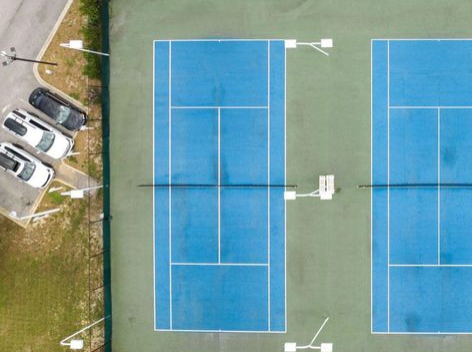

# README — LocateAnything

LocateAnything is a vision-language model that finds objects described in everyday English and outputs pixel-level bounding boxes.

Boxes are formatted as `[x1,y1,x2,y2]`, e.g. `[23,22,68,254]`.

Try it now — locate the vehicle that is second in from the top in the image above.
[4,112,70,157]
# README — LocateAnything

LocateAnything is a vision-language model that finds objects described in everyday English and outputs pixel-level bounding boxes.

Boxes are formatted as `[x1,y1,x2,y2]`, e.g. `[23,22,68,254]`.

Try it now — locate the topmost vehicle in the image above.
[29,87,89,130]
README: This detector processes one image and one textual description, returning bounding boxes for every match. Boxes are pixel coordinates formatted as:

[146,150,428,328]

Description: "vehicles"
[4,112,70,157]
[0,139,55,184]
[29,87,89,130]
